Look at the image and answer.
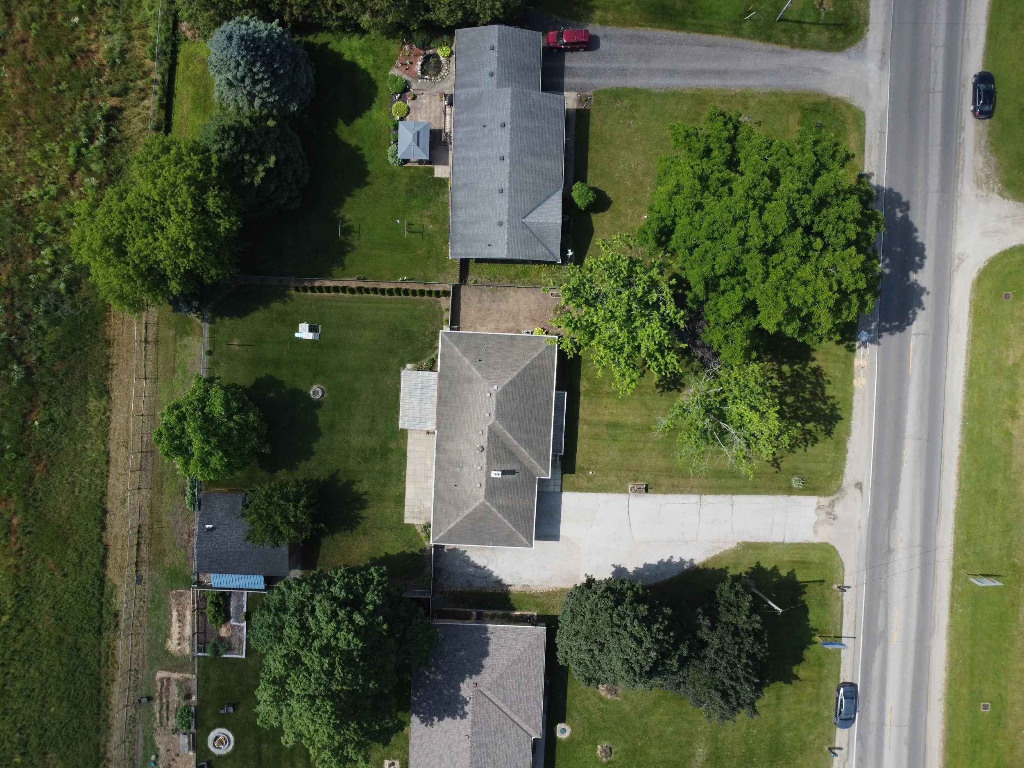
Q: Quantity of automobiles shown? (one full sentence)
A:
There are 3 automobiles in the image.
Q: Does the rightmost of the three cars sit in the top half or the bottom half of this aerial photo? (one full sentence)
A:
The rightmost of the three cars is in the top half of the image.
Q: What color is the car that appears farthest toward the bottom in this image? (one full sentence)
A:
The color of the car that appears farthest toward the bottom is blue.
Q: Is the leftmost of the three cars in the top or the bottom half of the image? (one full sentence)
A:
It is in the top half that the leftmost of the three cars appears.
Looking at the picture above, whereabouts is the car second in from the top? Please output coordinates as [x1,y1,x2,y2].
[973,69,1000,118]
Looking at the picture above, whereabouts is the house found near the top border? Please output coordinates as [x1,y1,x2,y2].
[449,24,566,265]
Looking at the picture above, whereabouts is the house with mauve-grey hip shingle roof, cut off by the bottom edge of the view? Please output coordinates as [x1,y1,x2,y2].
[407,616,550,768]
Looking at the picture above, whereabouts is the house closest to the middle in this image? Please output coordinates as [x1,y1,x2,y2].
[431,330,558,549]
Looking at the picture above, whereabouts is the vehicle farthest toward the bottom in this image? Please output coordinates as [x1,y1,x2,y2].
[835,681,861,729]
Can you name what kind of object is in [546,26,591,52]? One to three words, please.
car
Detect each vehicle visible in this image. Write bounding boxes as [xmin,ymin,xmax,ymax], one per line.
[546,26,591,52]
[973,69,1000,118]
[835,681,861,729]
